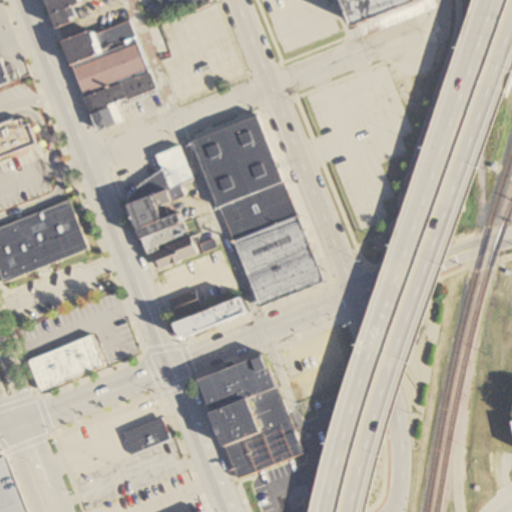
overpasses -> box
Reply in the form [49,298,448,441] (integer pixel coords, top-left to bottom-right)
[333,0,512,512]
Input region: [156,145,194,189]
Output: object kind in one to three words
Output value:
building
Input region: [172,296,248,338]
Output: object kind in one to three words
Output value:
building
